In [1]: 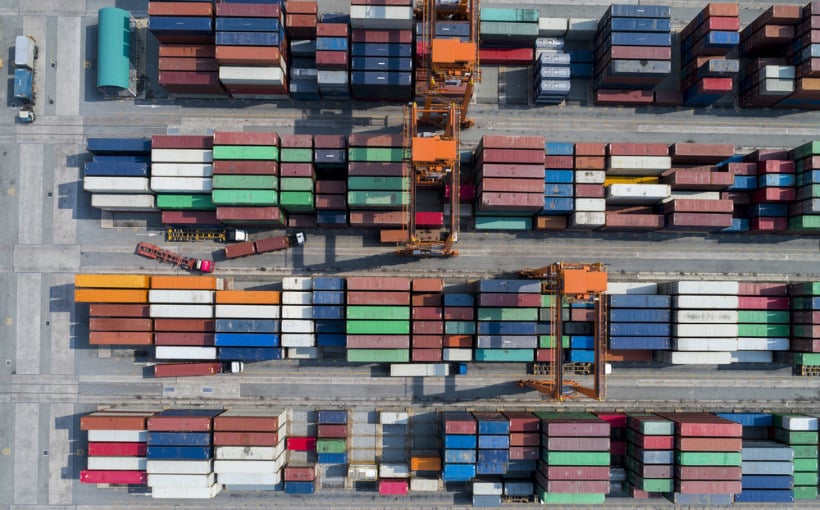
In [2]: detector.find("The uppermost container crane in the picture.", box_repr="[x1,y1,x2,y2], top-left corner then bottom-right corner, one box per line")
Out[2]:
[412,0,481,128]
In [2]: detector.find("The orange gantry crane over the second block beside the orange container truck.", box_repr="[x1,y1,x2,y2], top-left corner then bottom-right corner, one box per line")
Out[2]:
[395,101,462,258]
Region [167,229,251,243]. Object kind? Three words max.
vehicle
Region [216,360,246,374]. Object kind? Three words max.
vehicle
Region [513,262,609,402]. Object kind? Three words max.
container crane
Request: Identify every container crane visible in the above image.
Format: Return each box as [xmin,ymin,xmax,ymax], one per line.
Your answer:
[395,101,462,258]
[412,0,481,128]
[513,262,609,402]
